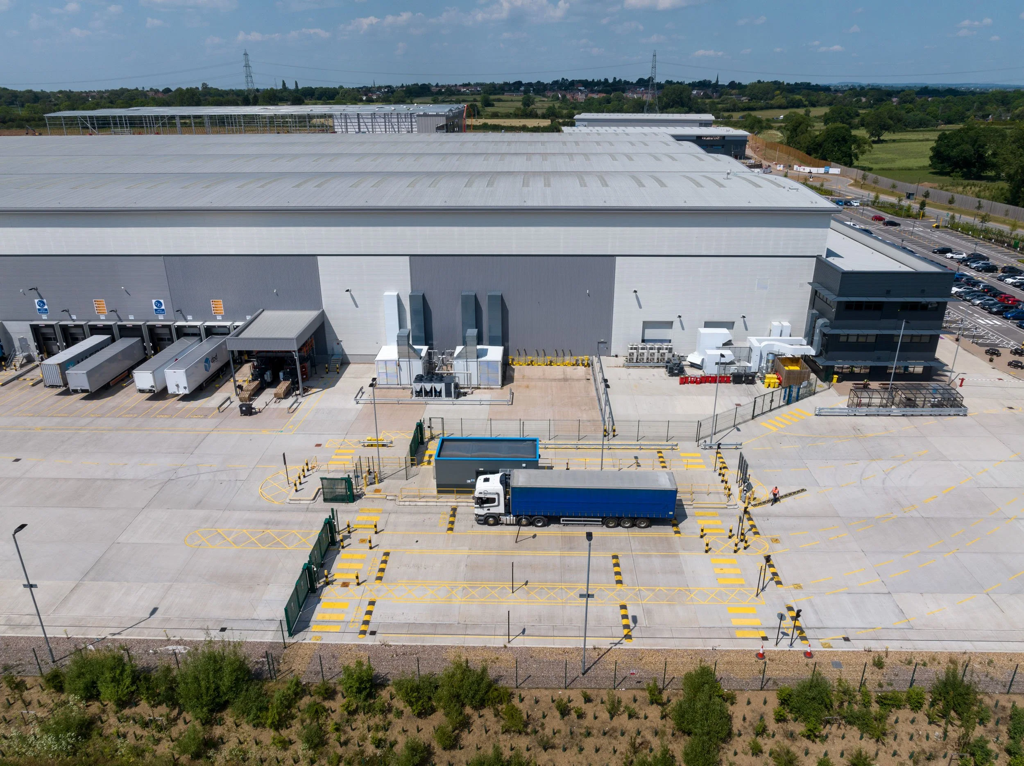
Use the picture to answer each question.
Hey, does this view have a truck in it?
Yes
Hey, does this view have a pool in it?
No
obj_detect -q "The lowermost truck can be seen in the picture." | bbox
[472,470,677,527]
